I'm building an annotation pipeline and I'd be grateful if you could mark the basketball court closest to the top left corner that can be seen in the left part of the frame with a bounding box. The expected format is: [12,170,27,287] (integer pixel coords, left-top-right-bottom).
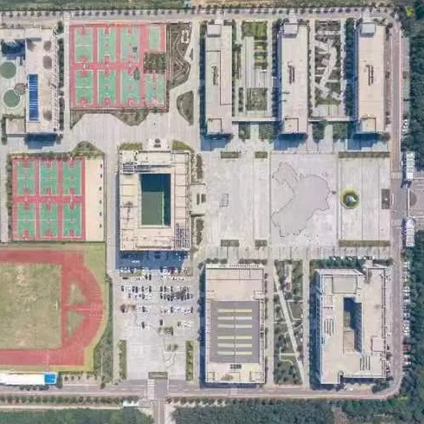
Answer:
[75,28,93,63]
